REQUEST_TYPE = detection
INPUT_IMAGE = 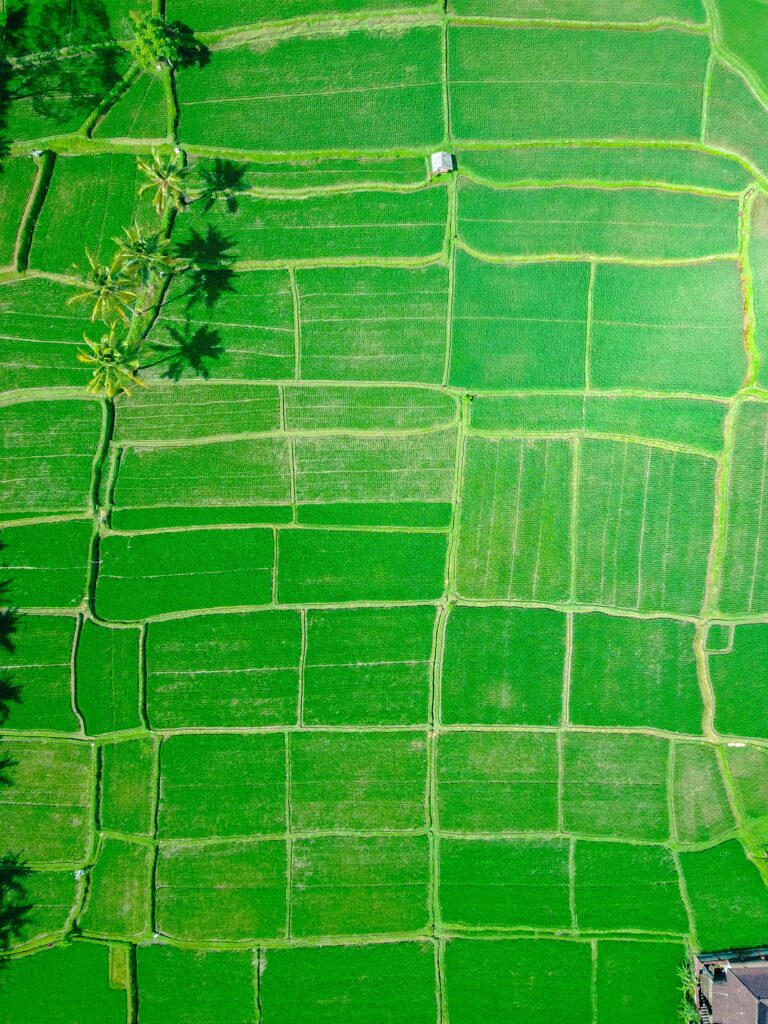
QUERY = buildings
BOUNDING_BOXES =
[432,152,452,177]
[701,960,768,1024]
